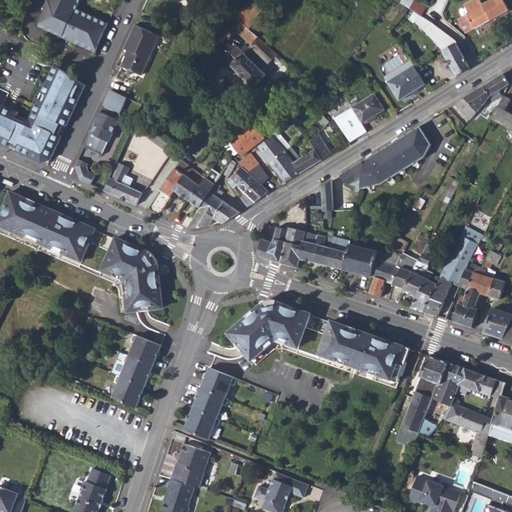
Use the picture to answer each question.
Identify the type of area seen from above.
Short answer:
residential area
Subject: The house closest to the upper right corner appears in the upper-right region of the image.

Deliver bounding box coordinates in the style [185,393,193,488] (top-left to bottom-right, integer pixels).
[457,0,509,32]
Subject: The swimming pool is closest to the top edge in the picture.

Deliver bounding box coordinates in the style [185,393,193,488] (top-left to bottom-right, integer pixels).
[454,460,477,490]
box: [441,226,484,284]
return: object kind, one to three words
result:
building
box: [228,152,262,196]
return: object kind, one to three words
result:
house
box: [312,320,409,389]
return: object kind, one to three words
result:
building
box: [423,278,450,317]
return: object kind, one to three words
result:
house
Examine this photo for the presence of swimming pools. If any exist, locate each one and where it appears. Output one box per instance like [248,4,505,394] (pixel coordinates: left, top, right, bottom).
[466,493,492,512]
[454,460,477,490]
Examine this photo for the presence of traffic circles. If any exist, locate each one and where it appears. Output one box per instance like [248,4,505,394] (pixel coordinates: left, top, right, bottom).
[188,229,254,295]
